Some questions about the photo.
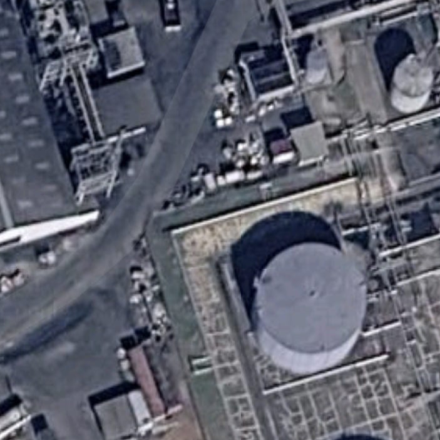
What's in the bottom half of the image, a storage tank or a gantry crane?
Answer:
storage tank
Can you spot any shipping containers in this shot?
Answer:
Yes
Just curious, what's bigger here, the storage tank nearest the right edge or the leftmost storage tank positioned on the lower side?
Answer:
the leftmost storage tank positioned on the lower side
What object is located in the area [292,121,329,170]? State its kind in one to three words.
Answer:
shed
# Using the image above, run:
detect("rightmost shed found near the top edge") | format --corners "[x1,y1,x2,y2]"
[100,19,145,81]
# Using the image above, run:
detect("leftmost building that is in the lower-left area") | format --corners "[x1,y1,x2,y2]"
[95,395,138,440]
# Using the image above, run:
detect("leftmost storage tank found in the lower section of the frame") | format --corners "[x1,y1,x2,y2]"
[248,242,369,375]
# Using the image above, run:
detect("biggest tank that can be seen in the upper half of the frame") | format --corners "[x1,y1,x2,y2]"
[388,49,434,117]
